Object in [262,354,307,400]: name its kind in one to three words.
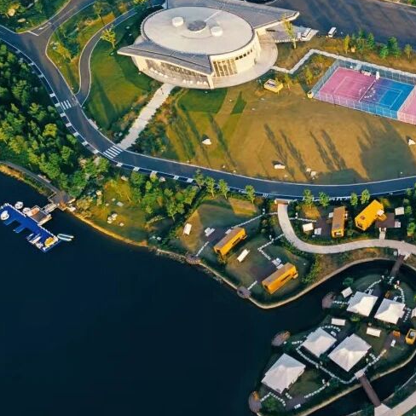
tent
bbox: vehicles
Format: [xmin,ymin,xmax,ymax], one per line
[299,25,311,37]
[328,25,336,37]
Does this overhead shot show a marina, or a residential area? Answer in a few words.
marina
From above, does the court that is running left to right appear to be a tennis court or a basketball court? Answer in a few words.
tennis court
